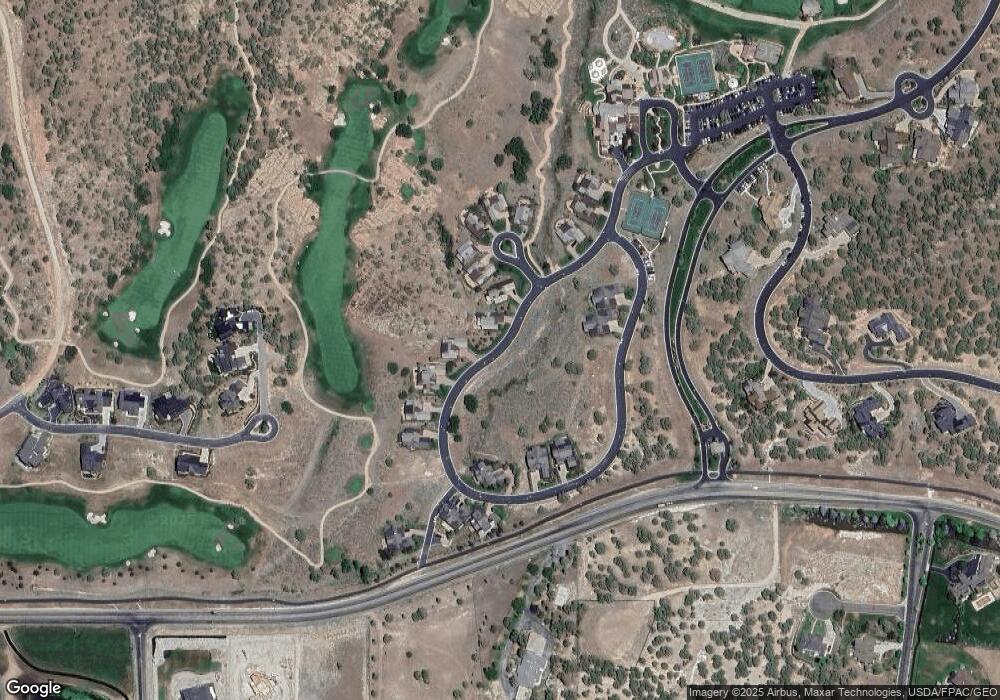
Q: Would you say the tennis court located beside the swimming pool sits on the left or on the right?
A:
right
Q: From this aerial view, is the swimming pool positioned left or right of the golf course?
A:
on its right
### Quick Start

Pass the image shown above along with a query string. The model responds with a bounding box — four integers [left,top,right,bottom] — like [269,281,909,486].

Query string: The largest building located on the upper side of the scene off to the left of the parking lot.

[594,79,640,153]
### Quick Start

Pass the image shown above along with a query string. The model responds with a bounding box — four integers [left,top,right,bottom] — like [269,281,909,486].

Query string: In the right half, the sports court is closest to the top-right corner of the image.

[756,40,784,64]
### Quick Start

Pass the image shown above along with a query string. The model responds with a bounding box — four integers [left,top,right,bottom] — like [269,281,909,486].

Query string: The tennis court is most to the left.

[622,191,671,239]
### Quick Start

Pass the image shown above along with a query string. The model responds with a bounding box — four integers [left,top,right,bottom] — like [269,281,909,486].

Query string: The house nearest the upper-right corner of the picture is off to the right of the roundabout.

[949,77,979,108]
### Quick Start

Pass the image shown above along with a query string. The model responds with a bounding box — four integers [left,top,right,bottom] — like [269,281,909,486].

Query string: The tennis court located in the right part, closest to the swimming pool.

[676,51,717,95]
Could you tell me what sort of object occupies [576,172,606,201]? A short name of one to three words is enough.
house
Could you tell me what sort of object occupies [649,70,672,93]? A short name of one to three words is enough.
building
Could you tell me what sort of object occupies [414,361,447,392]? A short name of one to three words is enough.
house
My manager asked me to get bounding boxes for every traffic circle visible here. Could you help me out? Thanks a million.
[894,72,936,119]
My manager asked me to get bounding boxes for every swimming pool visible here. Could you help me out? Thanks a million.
[643,26,681,51]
